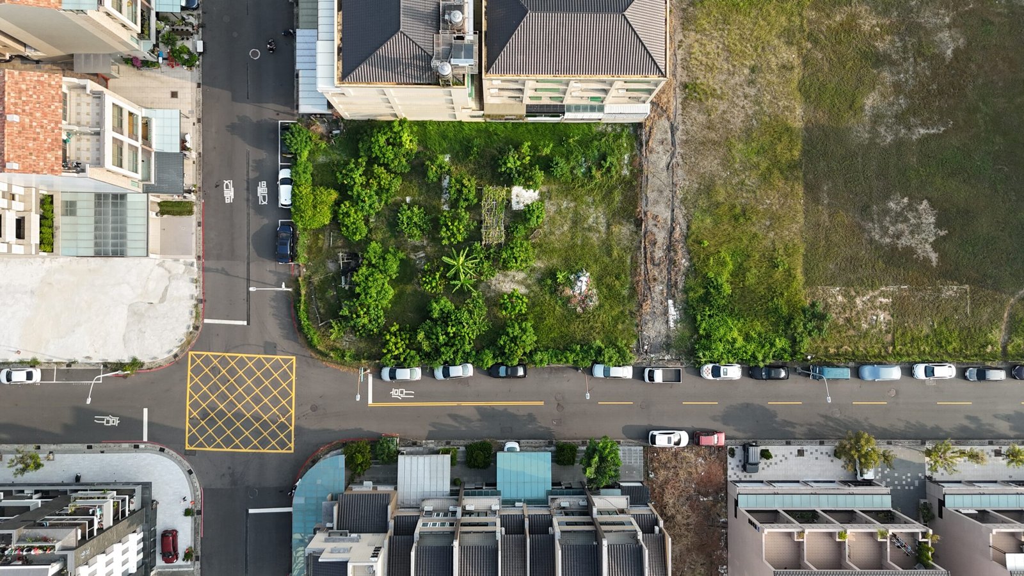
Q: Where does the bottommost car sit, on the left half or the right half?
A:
left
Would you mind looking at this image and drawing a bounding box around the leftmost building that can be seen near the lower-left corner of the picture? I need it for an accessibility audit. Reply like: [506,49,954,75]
[0,485,156,576]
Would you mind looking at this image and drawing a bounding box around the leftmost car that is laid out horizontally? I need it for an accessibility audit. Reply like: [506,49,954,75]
[2,367,44,386]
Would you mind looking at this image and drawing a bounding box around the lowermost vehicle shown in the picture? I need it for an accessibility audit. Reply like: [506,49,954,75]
[159,527,180,562]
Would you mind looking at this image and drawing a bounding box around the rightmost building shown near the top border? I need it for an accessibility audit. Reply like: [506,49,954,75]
[481,0,668,121]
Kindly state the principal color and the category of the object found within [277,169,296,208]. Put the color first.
white car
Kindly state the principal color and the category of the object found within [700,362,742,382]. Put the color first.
white car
